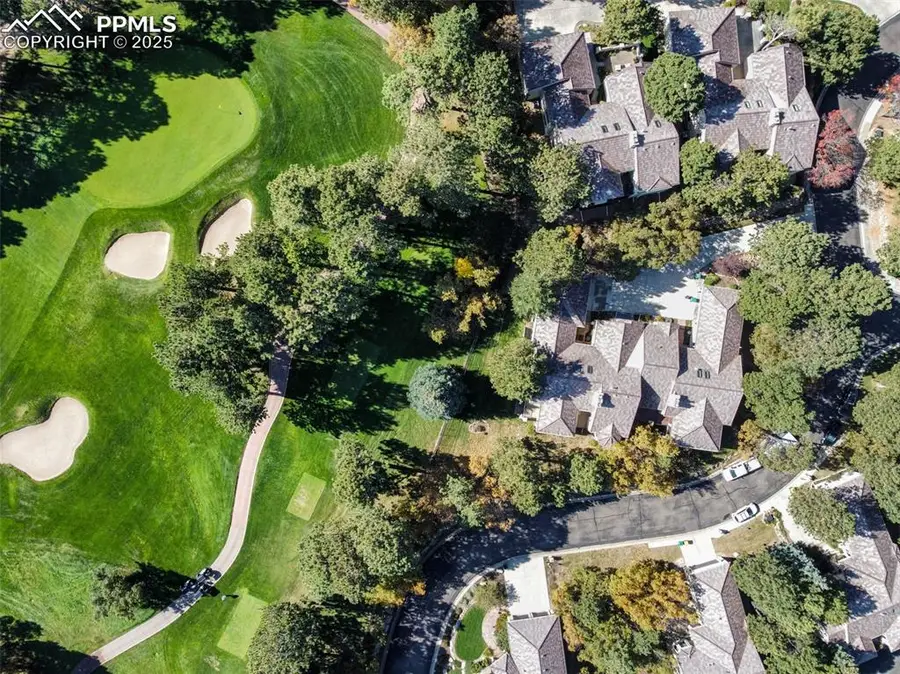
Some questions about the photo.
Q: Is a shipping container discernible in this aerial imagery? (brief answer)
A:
No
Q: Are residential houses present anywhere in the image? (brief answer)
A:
Yes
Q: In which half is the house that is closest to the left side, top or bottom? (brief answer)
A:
bottom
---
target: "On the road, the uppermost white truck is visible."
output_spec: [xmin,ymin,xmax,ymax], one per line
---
[722,457,762,483]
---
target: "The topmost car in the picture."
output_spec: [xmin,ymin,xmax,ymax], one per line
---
[835,382,859,413]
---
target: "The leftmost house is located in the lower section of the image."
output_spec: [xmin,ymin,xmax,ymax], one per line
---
[483,611,569,674]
